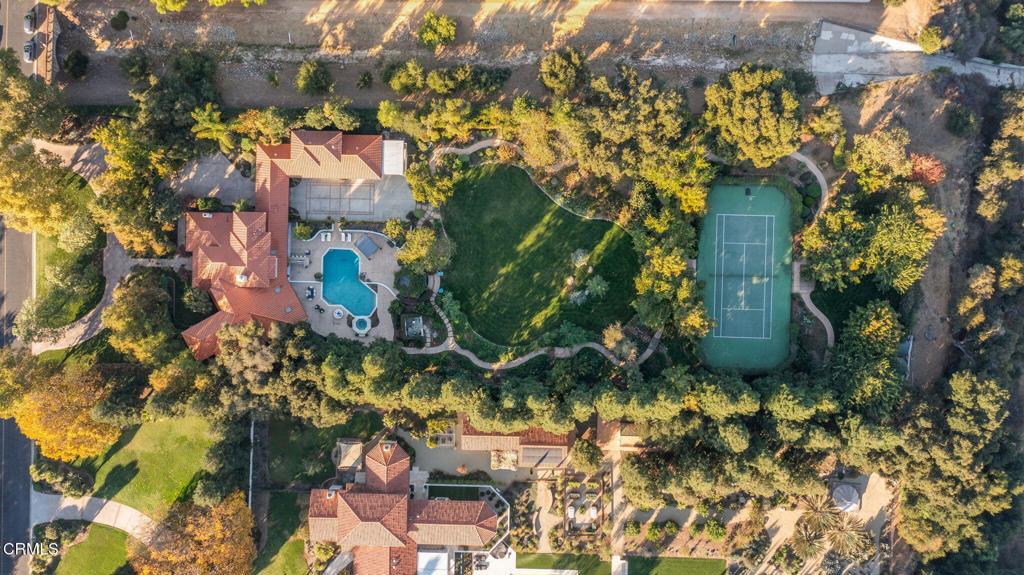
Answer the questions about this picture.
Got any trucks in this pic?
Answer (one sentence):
No, the scene contains no truck.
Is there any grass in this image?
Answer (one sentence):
Yes, grass can be seen from above here.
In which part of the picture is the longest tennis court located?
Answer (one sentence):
The longest tennis court sits in the right section of the image.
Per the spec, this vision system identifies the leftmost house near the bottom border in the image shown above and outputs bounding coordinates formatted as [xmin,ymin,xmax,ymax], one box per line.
[307,439,497,575]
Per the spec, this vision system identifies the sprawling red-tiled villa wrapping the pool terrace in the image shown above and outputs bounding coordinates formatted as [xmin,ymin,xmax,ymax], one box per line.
[181,131,382,360]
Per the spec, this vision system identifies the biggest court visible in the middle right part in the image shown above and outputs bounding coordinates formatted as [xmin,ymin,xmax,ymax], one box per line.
[699,183,794,369]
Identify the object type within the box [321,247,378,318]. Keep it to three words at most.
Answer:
swimming pool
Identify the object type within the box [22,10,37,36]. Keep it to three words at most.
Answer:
car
